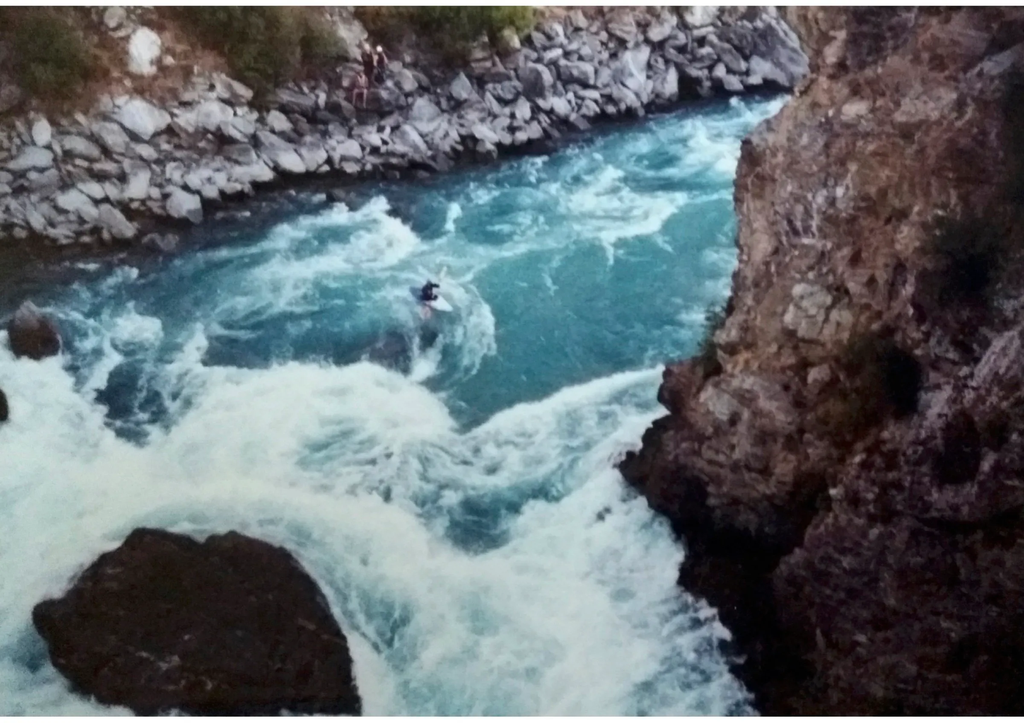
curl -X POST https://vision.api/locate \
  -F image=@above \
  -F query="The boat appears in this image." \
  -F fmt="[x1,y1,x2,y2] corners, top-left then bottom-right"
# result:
[412,288,455,310]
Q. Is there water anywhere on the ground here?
Yes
